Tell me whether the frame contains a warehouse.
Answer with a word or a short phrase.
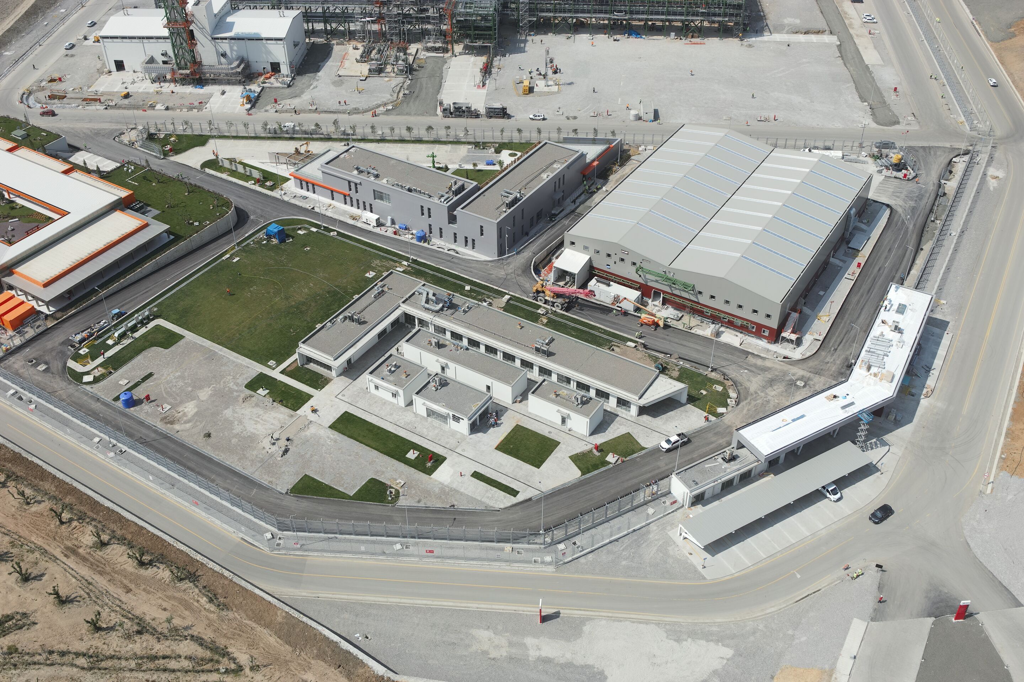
Yes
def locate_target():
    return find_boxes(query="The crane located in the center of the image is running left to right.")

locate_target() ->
[527,279,593,313]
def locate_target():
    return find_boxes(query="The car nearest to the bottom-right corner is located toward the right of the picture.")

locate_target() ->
[870,500,895,521]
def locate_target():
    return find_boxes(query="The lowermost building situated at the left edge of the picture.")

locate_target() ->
[0,146,171,318]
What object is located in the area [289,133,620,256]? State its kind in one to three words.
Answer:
building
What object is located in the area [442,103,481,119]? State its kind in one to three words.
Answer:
vehicle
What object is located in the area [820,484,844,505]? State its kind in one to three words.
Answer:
vehicle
